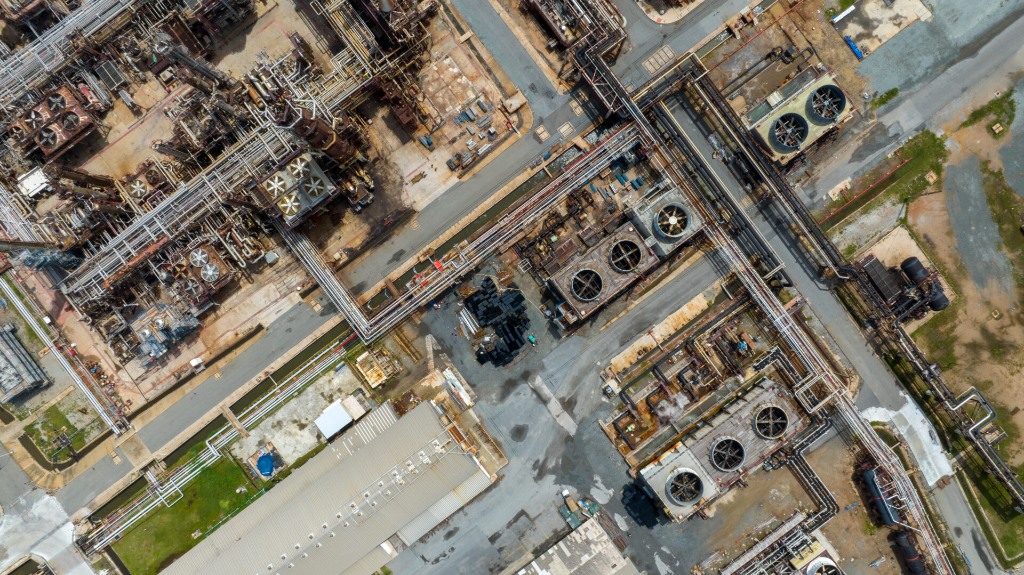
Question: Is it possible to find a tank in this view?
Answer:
Yes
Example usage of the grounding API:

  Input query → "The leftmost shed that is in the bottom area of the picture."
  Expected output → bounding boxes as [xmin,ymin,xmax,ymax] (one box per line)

[0,321,60,406]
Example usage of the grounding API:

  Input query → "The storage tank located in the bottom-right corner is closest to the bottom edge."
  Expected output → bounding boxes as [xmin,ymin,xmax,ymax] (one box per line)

[889,530,930,575]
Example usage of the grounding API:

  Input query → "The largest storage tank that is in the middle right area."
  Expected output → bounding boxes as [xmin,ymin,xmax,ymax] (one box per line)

[895,257,950,310]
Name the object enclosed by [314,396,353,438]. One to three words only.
shed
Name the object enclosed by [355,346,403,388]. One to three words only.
shed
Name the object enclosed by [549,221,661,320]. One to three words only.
cooling tower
